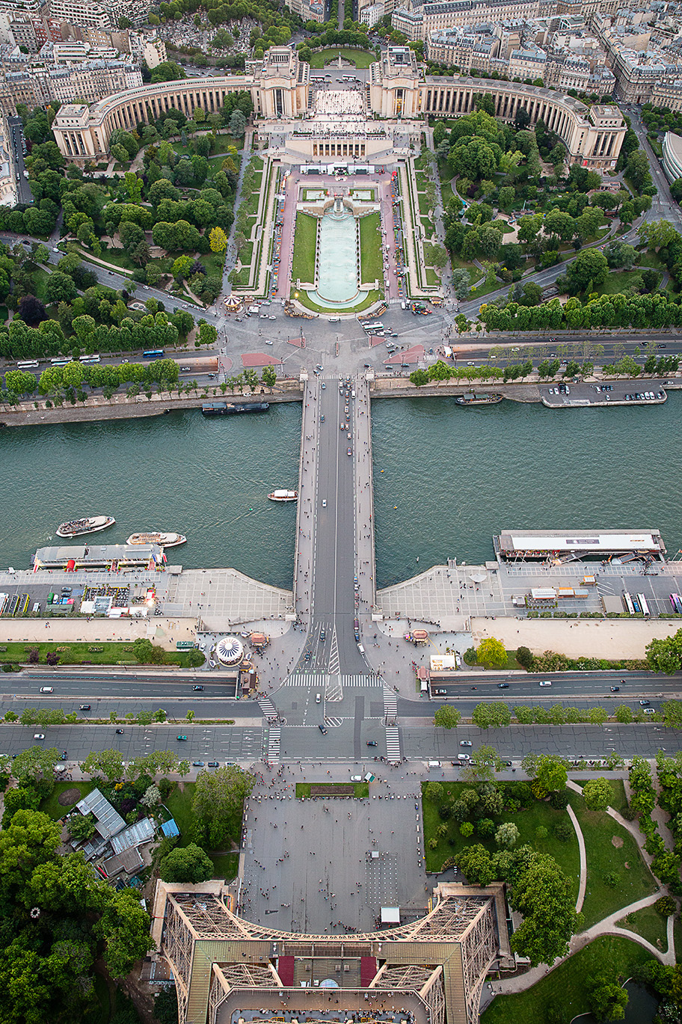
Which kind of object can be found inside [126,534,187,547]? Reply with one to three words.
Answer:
boat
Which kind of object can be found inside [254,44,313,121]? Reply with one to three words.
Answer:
building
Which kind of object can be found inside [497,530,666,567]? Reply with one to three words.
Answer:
pier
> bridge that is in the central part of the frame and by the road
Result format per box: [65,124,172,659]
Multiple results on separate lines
[294,374,375,622]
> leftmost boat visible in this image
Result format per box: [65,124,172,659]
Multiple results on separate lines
[55,518,115,538]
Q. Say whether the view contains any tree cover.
Yes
